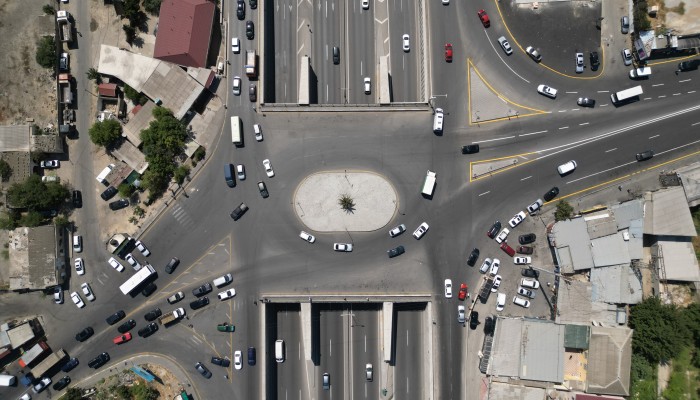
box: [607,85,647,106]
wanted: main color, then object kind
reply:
white vehicle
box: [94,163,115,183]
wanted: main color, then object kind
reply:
white vehicle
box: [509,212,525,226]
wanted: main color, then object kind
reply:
white car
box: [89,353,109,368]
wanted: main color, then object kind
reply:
black car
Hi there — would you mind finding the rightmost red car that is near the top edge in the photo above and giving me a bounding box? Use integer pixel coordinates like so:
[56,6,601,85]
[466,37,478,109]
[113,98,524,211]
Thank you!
[477,10,490,27]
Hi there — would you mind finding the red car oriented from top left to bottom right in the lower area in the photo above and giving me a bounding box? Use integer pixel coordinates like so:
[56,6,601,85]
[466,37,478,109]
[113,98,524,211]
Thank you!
[500,242,515,256]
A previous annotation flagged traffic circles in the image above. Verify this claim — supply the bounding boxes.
[294,171,399,233]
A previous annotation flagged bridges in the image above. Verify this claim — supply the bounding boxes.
[260,103,433,303]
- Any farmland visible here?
No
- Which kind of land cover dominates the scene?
paved ground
